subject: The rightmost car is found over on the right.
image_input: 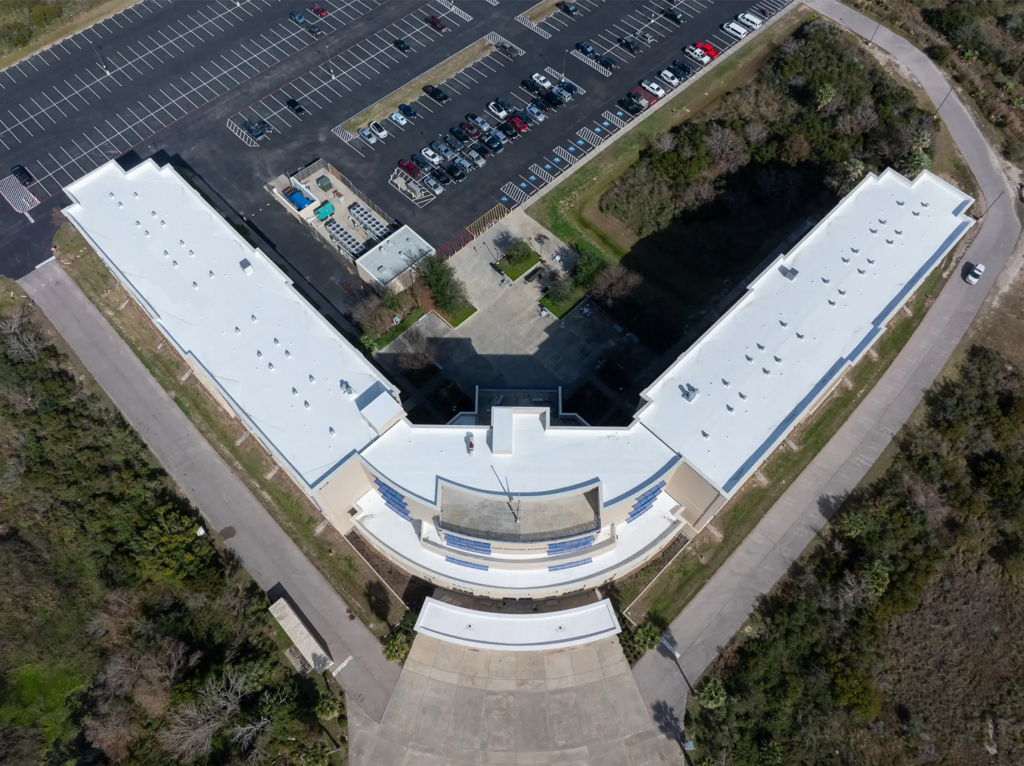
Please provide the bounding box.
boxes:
[966,262,986,285]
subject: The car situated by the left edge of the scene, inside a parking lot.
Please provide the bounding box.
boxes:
[12,167,32,185]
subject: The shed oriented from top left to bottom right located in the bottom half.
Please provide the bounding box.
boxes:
[269,597,331,670]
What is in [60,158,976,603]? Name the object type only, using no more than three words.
building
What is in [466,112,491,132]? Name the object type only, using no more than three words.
vehicle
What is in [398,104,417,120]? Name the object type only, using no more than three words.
car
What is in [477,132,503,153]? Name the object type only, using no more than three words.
truck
